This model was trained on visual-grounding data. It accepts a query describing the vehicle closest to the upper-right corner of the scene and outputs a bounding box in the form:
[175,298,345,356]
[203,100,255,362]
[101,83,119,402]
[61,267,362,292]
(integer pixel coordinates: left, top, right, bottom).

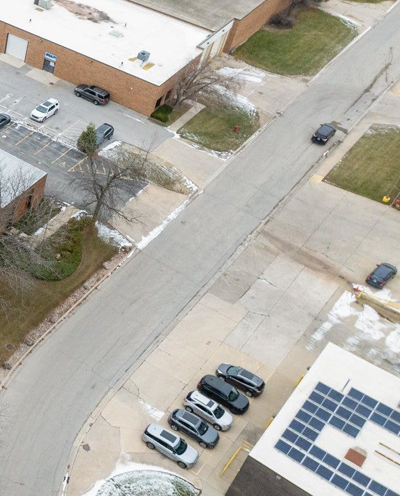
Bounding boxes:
[310,124,335,145]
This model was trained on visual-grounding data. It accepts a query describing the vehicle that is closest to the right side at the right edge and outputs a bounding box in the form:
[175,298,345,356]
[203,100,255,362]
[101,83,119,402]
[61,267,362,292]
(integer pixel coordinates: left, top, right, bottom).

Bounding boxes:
[364,260,394,291]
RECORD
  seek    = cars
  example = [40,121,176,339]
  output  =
[162,403,221,450]
[29,96,59,122]
[142,423,202,471]
[364,260,394,291]
[0,113,14,130]
[72,83,111,106]
[310,124,335,145]
[192,368,253,416]
[99,121,115,148]
[212,359,269,400]
[178,386,236,432]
